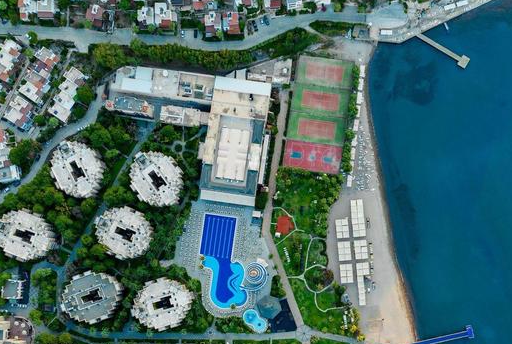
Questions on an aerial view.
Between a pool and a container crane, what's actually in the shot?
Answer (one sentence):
Visible in the photo is a pool.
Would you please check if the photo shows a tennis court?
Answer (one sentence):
Yes, a tennis court appears in the view.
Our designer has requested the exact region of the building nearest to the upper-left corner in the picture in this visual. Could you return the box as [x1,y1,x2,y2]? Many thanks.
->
[17,0,40,23]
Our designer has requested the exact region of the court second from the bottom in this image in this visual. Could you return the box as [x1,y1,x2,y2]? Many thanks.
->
[286,110,349,145]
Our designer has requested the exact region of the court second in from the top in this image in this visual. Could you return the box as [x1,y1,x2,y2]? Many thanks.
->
[291,83,350,117]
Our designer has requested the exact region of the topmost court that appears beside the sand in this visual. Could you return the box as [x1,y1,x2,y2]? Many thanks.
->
[295,55,355,90]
